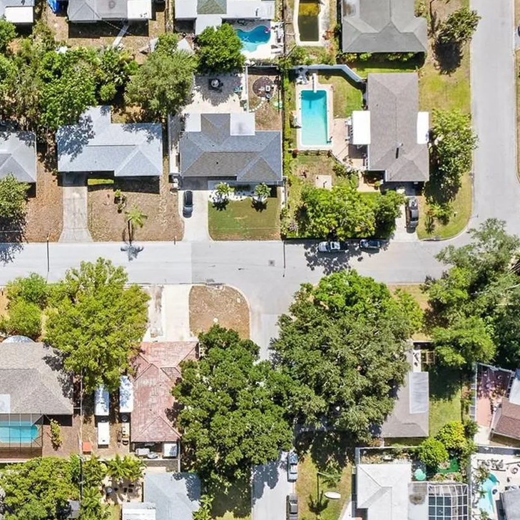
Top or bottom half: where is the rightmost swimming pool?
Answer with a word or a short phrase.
bottom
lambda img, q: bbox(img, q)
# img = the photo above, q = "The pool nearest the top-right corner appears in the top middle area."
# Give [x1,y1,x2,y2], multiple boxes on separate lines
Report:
[296,0,324,42]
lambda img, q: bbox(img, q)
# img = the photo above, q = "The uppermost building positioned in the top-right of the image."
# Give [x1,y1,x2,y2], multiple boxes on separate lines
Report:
[335,0,428,56]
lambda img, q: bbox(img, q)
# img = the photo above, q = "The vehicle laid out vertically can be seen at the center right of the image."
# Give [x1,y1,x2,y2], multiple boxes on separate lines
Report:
[405,200,419,229]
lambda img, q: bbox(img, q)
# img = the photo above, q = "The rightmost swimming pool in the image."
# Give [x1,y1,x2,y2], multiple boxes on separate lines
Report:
[478,473,500,518]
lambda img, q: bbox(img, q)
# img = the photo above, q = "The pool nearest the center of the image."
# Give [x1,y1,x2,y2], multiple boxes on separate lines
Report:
[299,89,329,147]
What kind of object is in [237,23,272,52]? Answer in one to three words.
swimming pool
